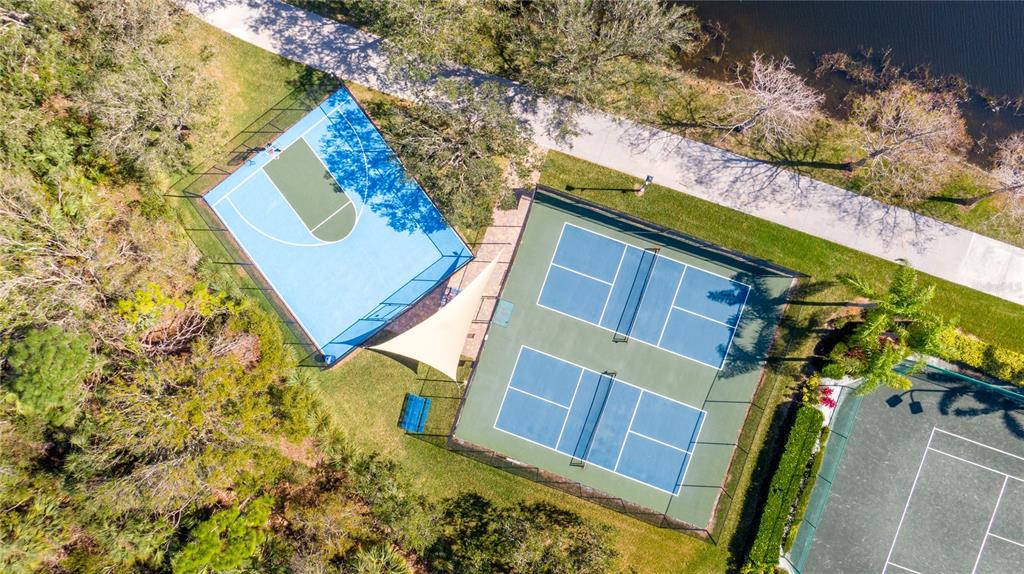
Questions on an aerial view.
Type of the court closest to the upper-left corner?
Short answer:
basketball court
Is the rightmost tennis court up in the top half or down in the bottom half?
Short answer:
bottom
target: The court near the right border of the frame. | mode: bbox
[803,361,1024,574]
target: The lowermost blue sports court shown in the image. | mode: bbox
[495,346,706,495]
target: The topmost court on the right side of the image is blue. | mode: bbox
[537,223,750,369]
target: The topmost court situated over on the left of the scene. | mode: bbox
[202,86,473,363]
